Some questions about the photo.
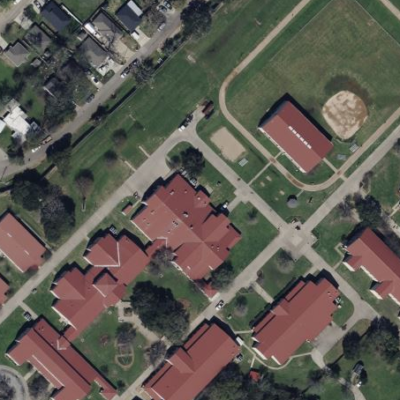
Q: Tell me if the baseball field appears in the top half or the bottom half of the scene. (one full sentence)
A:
It is in the top half that the baseball field appears.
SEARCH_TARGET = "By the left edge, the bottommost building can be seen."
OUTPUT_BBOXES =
[4,319,116,400]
